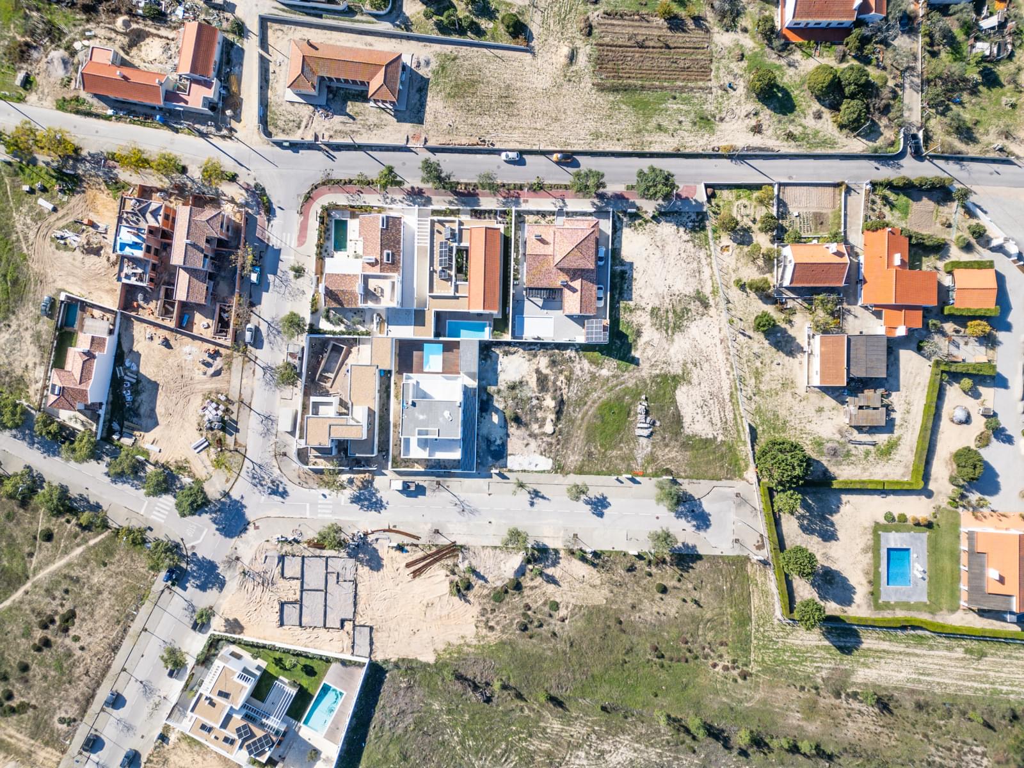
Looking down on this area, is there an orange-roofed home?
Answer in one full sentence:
Yes, the frame does contain an orange-roofed home.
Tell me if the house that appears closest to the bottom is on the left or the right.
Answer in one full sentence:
The house that appears closest to the bottom appears in the left half of the scene.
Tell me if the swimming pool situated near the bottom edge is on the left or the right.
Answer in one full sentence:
You can find the swimming pool situated near the bottom edge on the left side of the picture.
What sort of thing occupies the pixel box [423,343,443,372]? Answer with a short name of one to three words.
swimming pool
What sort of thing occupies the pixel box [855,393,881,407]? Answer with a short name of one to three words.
shed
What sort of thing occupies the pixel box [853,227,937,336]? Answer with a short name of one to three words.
house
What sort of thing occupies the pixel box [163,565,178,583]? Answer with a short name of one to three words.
car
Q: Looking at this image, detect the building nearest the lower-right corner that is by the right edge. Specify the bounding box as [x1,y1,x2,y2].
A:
[953,526,1024,621]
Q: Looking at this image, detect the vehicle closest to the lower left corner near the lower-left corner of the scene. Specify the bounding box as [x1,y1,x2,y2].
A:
[81,733,96,753]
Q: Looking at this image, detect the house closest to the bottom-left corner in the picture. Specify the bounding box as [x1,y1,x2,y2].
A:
[174,642,300,763]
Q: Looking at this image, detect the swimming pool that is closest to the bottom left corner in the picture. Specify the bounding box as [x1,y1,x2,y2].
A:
[299,680,349,739]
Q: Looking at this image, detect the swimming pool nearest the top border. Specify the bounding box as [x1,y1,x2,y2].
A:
[331,218,350,254]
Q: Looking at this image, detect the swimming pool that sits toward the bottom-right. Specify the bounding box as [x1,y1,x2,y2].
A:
[886,547,911,588]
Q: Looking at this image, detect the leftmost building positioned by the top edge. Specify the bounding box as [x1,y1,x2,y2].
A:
[84,21,225,116]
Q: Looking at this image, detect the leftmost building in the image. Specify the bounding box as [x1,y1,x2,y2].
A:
[47,317,128,411]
